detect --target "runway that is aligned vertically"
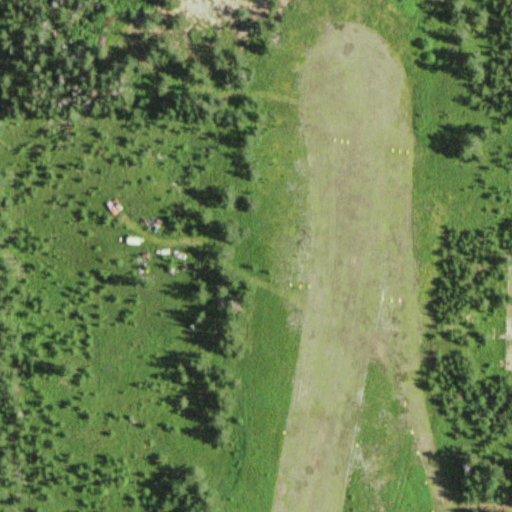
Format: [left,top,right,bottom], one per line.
[272,22,448,512]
